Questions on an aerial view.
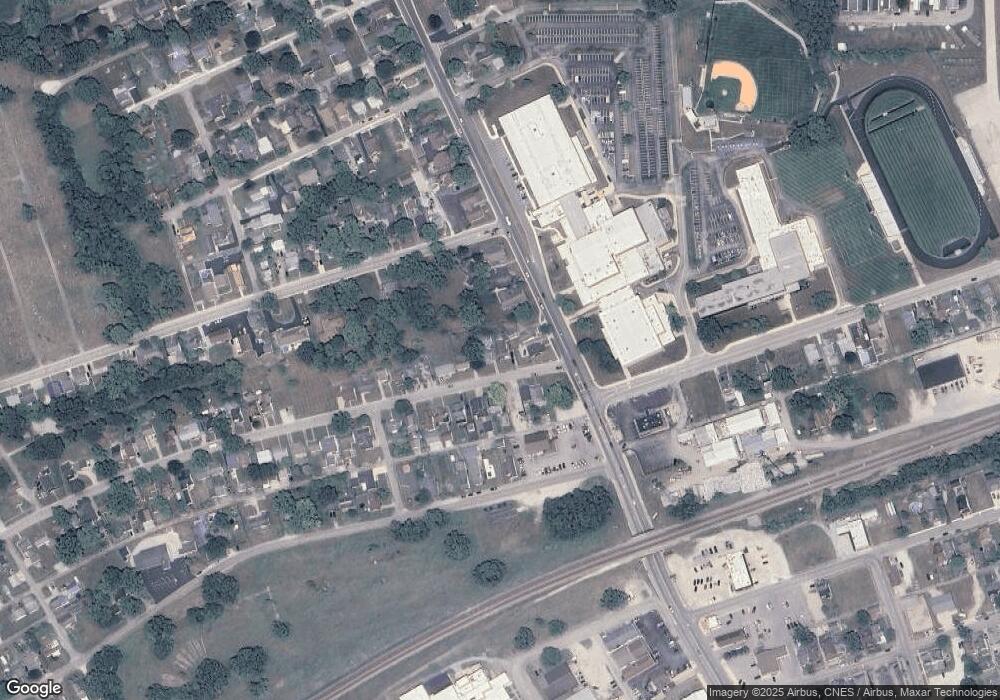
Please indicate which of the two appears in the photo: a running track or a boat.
running track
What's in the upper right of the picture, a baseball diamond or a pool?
baseball diamond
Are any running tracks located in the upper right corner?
Yes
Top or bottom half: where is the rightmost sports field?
top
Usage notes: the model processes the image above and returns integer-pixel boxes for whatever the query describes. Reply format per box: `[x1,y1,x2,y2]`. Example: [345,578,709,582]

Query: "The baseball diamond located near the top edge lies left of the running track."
[698,3,813,120]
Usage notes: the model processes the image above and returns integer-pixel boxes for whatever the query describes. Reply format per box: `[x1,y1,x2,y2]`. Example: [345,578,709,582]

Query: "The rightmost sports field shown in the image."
[866,85,980,260]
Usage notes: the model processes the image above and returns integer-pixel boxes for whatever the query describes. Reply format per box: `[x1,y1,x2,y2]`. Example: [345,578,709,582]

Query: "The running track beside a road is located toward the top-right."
[826,76,998,268]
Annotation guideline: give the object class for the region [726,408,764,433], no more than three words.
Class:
shed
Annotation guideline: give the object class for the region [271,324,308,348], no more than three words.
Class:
house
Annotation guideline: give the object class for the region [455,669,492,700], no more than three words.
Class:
building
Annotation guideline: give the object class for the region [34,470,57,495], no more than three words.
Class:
house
